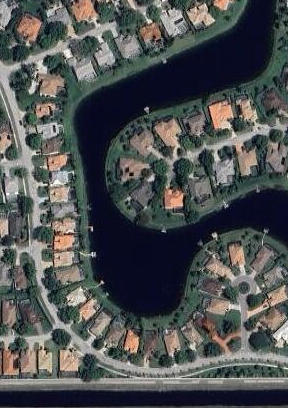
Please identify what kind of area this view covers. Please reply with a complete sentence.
This looks like a residential area.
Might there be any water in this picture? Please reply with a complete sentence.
Yes, water can be seen from above here.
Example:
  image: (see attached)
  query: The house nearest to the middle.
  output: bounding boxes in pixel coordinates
[125,180,152,207]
